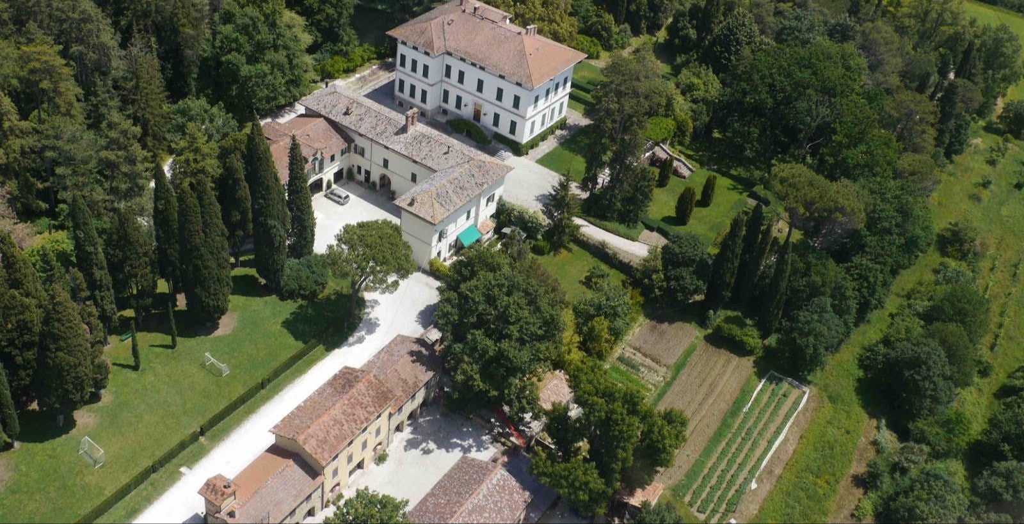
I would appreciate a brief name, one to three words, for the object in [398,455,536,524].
barn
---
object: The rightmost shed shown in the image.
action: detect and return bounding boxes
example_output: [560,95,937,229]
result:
[623,478,665,514]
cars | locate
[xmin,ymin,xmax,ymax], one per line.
[323,189,353,205]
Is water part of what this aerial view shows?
No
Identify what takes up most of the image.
trees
